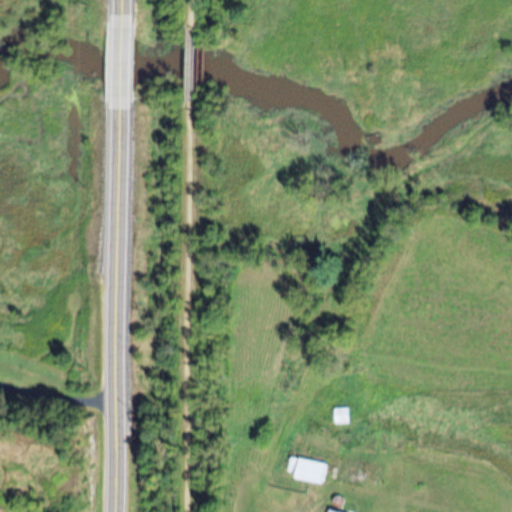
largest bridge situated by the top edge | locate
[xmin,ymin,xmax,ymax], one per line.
[105,14,135,110]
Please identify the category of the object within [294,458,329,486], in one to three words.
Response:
house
